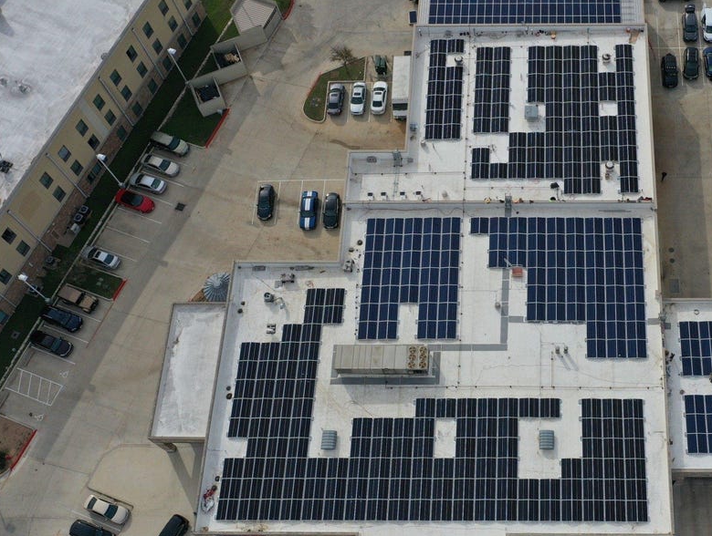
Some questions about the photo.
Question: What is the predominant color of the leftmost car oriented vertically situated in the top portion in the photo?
black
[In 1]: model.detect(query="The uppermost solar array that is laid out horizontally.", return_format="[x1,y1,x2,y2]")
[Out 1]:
[428,0,621,25]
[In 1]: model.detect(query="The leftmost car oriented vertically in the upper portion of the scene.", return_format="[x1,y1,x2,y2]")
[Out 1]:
[255,183,275,222]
